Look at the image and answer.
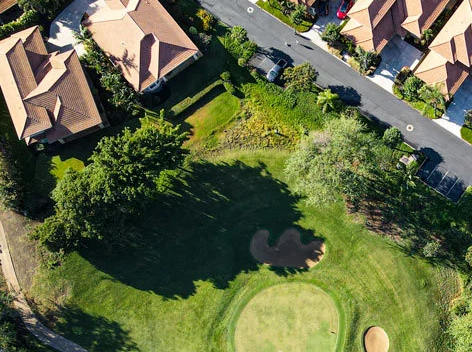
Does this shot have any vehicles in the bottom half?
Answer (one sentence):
No, there's no vehicle to be seen in the bottom half.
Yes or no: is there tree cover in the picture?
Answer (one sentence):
Yes, some tree cover is visible.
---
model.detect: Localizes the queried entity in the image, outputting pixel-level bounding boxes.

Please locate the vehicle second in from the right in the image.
[317,0,329,19]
